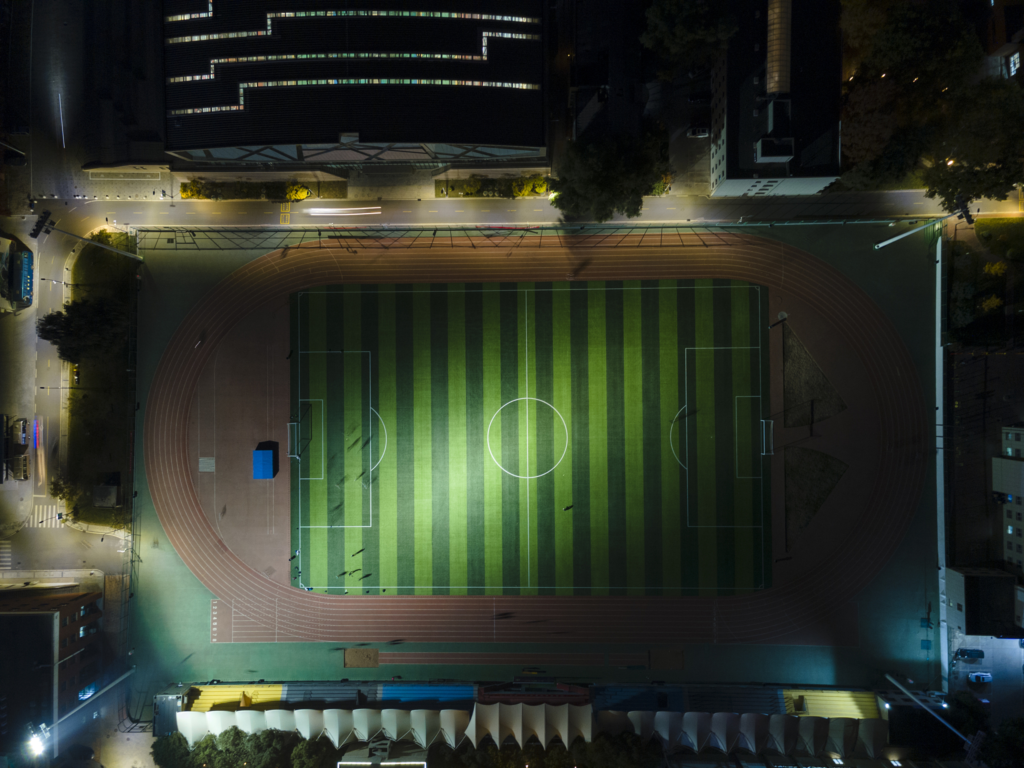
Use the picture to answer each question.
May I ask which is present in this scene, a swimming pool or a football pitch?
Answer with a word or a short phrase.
football pitch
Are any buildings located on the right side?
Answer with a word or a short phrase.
Yes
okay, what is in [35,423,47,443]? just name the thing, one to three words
vehicle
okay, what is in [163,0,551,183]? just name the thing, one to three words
building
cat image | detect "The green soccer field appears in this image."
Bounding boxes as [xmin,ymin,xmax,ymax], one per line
[290,280,773,597]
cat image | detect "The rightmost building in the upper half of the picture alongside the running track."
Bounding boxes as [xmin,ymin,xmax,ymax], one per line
[709,0,840,197]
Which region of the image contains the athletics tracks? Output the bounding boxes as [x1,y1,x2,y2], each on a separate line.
[147,232,925,646]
